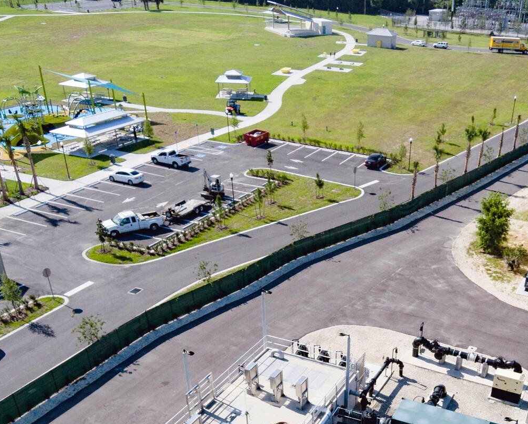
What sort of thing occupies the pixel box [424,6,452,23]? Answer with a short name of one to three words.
building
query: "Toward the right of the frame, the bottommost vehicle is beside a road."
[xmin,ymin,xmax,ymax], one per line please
[368,155,393,168]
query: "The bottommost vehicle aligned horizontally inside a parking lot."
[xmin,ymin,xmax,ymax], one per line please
[95,206,166,238]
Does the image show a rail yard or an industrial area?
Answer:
industrial area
